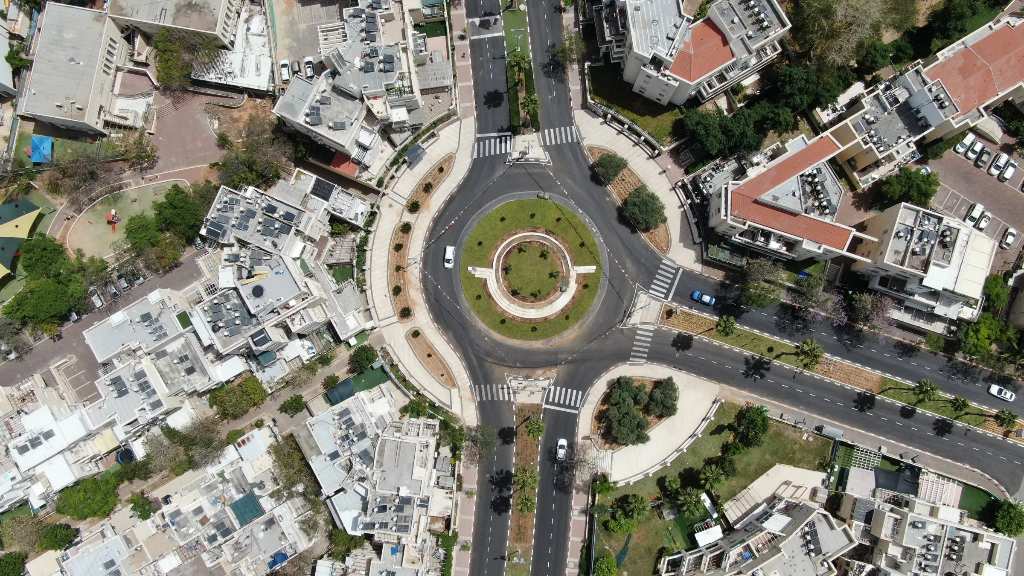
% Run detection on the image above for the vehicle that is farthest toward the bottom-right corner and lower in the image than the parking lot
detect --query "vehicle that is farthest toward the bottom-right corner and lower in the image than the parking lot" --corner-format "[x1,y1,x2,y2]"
[988,385,1015,401]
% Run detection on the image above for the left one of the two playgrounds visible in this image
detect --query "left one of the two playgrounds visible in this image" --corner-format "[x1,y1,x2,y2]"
[0,184,58,308]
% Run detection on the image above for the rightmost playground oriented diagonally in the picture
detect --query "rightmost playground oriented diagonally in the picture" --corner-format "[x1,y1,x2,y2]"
[68,181,192,261]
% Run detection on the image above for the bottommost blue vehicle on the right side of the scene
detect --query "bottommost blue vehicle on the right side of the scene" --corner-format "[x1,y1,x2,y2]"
[690,291,715,305]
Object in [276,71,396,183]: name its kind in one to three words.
house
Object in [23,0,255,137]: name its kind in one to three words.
building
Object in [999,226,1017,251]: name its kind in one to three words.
car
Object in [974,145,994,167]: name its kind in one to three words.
car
